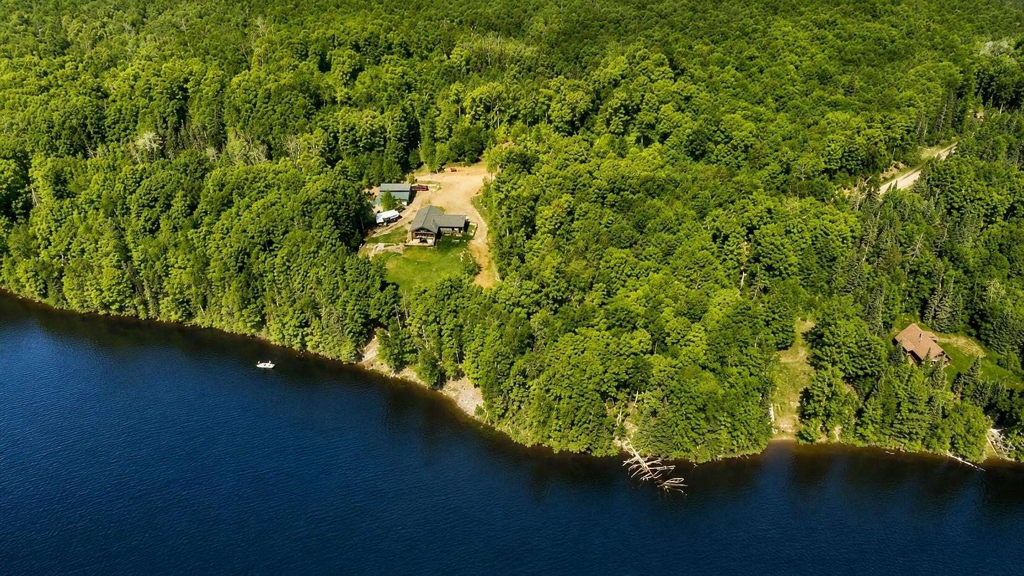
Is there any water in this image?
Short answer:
Yes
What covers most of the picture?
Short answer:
trees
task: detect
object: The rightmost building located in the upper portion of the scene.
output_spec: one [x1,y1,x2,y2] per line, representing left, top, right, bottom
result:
[409,207,469,243]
